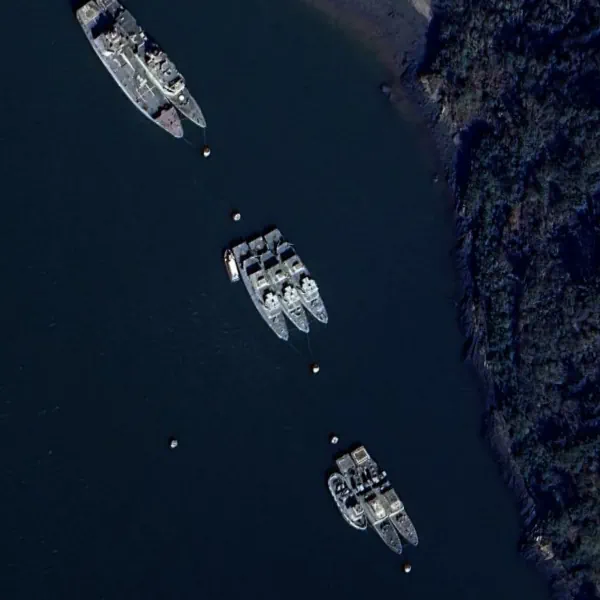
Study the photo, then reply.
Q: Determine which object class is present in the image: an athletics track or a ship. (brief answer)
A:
ship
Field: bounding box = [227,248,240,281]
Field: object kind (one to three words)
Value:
boat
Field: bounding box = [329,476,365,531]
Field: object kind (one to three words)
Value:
boat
